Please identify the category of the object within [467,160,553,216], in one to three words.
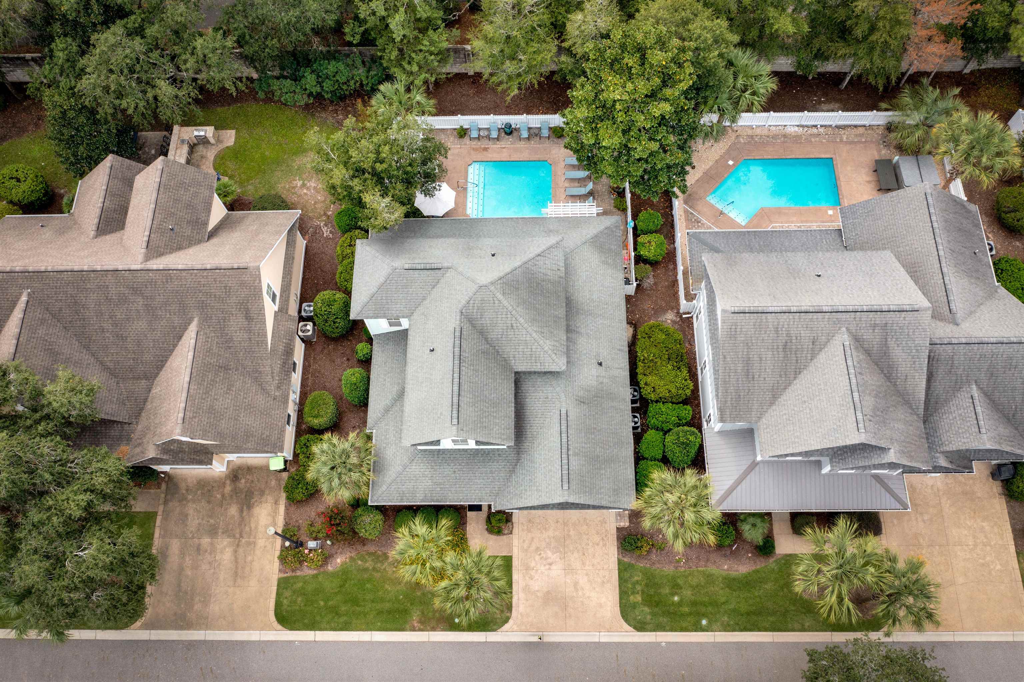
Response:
swimming pool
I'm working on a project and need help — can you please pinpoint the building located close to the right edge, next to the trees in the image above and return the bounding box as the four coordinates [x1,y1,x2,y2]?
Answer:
[685,186,1024,514]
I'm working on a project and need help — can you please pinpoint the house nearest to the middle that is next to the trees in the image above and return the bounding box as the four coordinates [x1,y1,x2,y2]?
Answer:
[348,216,636,514]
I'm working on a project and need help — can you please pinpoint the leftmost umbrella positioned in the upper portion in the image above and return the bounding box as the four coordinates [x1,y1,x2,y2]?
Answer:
[415,184,456,216]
